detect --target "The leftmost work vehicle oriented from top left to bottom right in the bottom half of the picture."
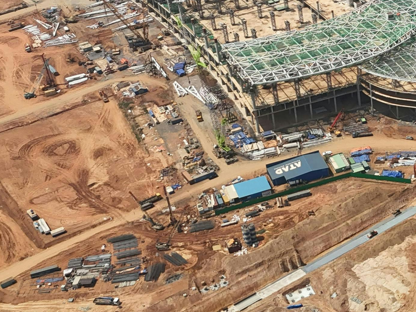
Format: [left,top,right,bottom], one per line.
[144,208,160,225]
